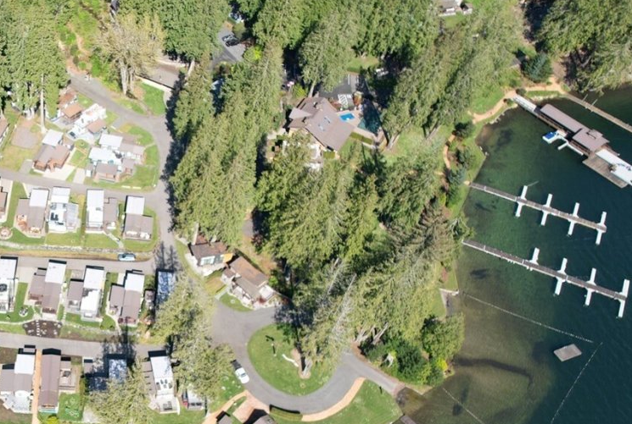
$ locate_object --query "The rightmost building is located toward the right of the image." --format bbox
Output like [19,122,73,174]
[571,127,610,159]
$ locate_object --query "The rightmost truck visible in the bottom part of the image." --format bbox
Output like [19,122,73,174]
[230,359,252,383]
